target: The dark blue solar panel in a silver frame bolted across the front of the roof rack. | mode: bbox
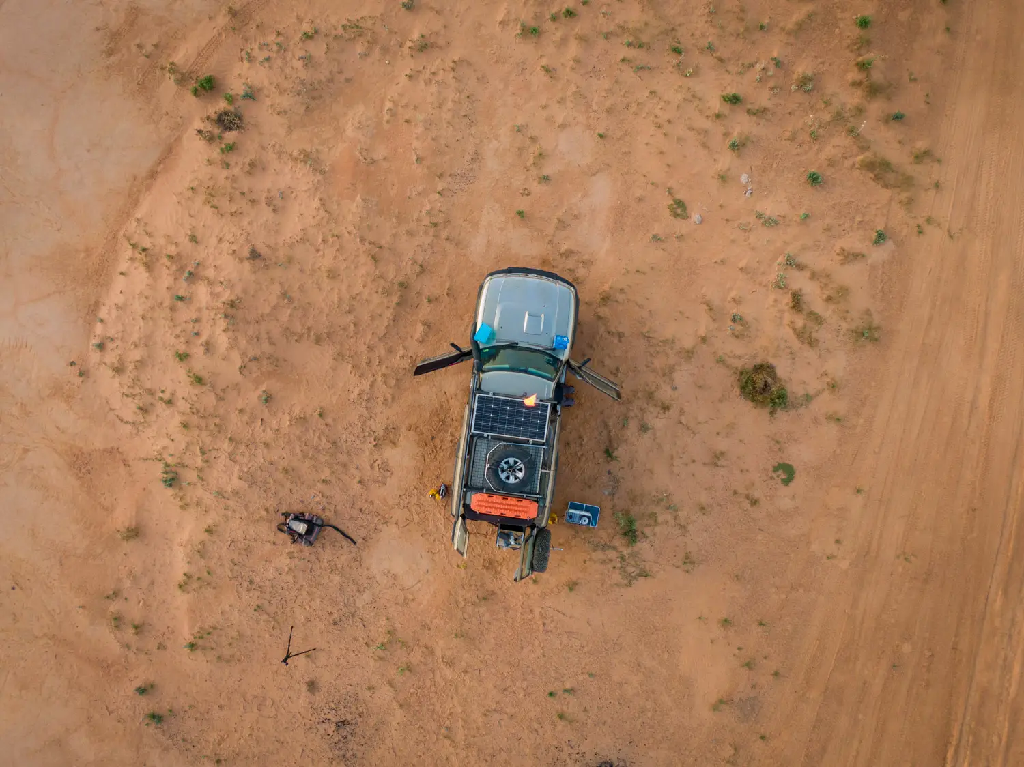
[472,395,550,441]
